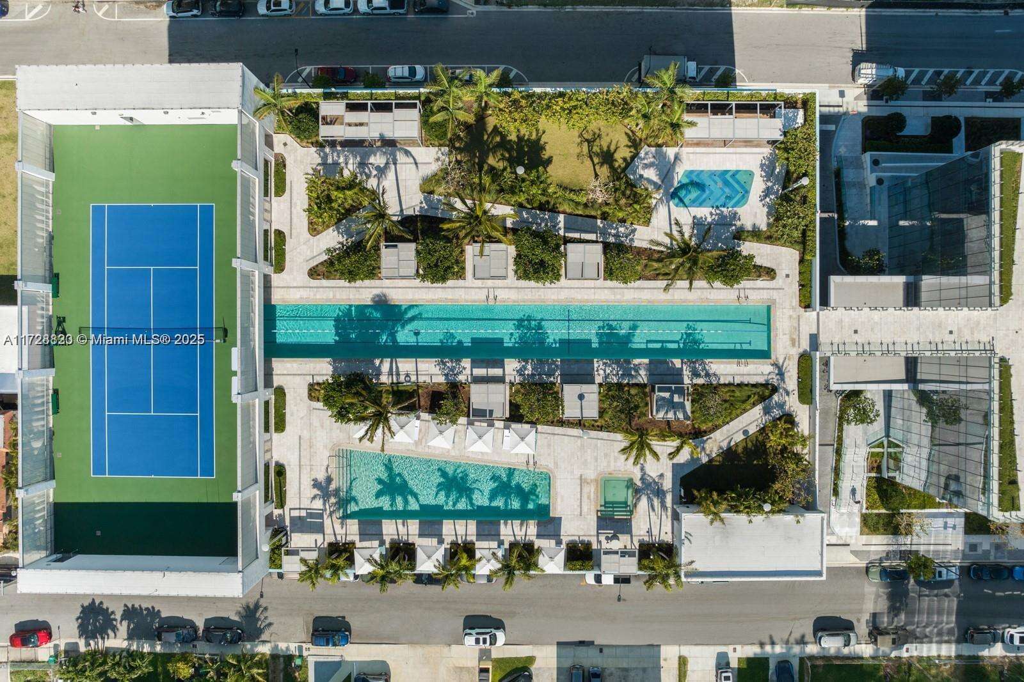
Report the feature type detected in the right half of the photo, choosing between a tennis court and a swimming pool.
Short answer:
swimming pool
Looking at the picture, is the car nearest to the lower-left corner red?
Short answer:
Yes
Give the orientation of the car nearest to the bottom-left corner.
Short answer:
from left to right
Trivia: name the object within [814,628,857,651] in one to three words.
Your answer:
car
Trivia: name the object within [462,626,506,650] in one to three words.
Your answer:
car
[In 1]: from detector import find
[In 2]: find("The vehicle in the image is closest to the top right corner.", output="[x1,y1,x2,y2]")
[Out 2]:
[853,60,903,85]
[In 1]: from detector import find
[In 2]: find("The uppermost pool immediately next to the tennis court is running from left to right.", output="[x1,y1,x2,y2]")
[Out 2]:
[263,298,776,362]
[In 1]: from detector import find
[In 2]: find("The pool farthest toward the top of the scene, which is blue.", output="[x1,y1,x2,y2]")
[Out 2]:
[672,170,753,207]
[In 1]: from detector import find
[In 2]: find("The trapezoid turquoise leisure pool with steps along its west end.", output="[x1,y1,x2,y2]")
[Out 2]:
[333,444,555,524]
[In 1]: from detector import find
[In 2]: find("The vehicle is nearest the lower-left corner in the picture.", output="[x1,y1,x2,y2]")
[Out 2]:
[10,626,54,649]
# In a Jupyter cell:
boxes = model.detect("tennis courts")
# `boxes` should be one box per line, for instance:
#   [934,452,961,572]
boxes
[53,126,247,556]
